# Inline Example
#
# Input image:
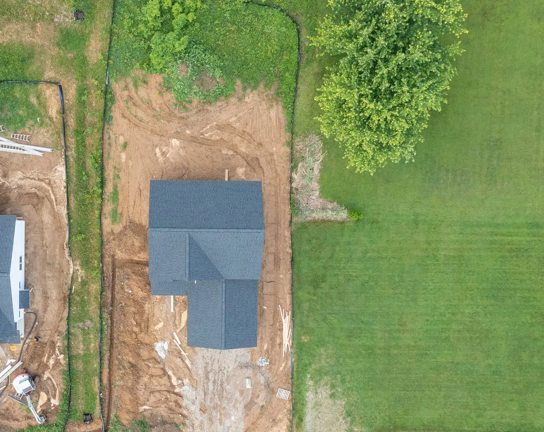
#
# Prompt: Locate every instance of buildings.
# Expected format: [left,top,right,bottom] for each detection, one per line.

[0,210,32,344]
[148,180,266,349]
